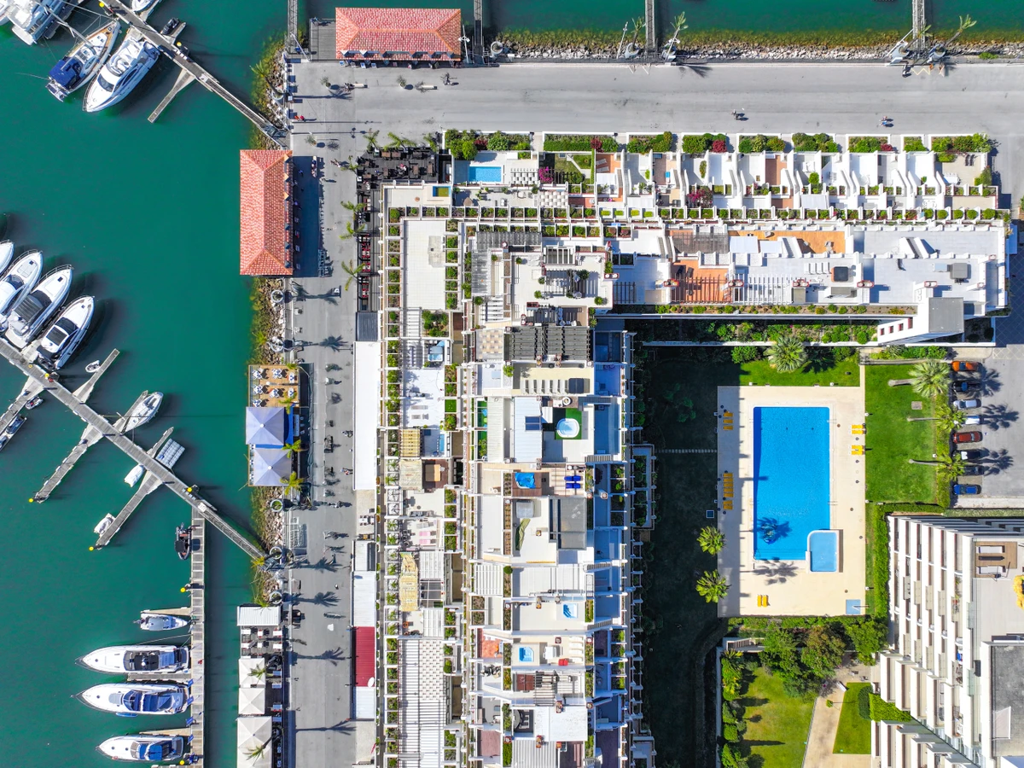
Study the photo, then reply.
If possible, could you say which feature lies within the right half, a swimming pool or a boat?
swimming pool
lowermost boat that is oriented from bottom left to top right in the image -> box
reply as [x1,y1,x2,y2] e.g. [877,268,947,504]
[93,514,113,535]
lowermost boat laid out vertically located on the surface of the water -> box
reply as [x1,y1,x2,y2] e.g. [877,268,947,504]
[174,520,191,561]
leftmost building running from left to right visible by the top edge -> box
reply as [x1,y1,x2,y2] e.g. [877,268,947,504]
[335,7,462,63]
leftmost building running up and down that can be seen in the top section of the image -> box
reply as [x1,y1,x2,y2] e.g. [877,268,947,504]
[239,149,293,280]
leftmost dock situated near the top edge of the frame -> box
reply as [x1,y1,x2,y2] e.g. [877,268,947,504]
[45,0,91,42]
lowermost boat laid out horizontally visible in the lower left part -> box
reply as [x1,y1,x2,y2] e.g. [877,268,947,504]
[96,731,192,761]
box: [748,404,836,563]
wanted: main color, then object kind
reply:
blue swimming pool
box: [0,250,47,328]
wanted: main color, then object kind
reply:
white boat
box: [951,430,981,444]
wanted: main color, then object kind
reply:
red car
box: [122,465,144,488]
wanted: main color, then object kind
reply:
white boat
